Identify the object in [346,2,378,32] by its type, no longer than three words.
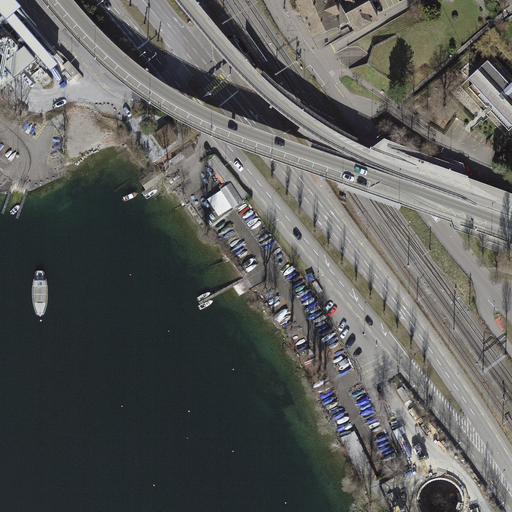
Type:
house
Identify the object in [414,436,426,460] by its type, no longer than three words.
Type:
vehicle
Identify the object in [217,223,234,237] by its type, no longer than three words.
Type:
boat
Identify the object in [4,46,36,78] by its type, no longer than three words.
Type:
building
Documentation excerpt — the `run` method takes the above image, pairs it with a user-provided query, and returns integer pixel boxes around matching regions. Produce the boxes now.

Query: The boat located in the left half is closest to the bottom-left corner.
[32,270,48,316]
